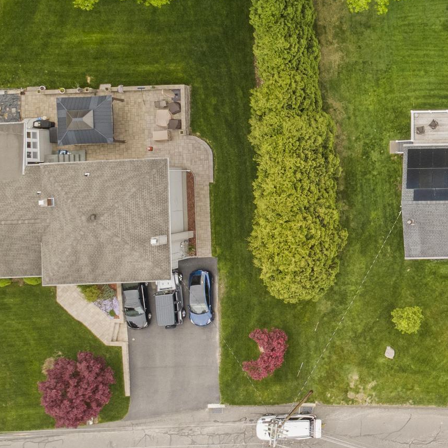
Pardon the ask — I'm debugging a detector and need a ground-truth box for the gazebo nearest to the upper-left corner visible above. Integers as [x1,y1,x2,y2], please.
[57,95,126,146]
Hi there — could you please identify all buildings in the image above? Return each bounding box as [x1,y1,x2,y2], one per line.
[399,143,448,261]
[0,121,195,286]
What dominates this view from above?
grass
